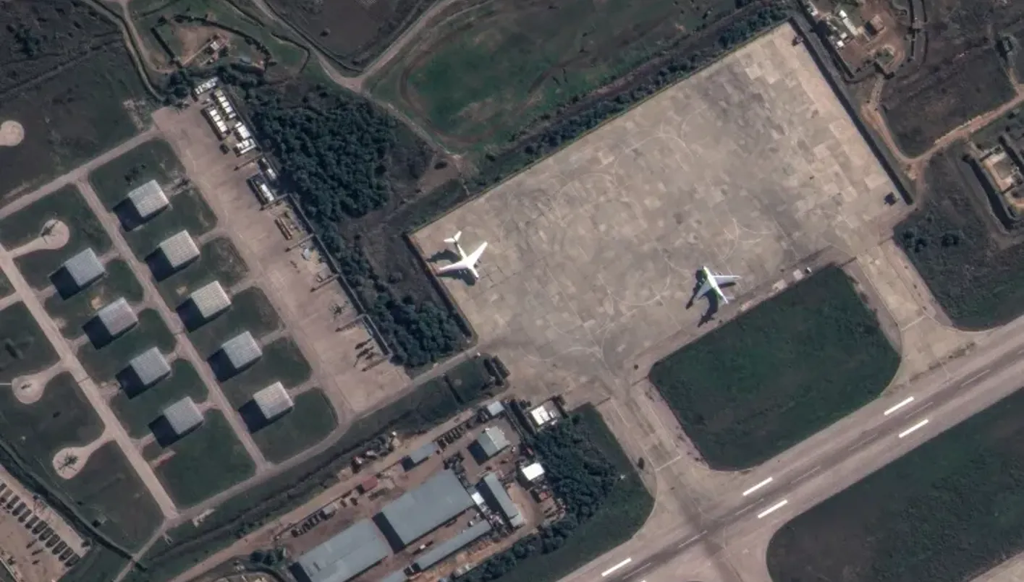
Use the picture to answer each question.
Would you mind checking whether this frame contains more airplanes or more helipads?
helipads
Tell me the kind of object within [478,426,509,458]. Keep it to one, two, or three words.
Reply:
building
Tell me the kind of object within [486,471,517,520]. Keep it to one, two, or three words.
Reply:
shed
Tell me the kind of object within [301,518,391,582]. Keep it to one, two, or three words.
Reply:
building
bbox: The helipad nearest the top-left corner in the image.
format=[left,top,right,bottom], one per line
[0,119,24,147]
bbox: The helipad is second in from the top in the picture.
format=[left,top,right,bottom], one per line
[7,221,69,260]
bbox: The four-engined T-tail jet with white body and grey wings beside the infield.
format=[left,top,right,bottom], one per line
[695,267,742,310]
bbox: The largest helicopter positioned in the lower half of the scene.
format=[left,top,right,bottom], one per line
[56,448,82,471]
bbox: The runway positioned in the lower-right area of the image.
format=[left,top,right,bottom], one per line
[560,316,1024,582]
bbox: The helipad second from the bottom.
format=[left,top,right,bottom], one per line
[13,354,74,403]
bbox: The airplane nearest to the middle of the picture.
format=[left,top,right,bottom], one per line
[441,230,488,277]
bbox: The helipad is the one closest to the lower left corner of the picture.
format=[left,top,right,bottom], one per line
[52,426,117,476]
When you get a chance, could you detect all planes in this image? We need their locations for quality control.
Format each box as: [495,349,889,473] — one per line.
[441,230,488,277]
[695,267,742,310]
